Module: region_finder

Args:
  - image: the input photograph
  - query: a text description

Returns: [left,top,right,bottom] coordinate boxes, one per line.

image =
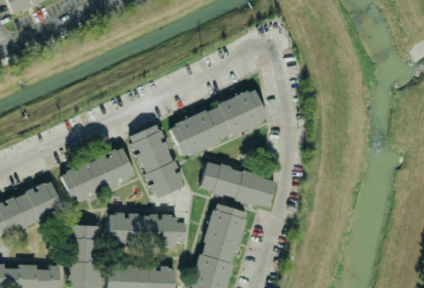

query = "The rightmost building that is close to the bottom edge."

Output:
[190,204,246,288]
